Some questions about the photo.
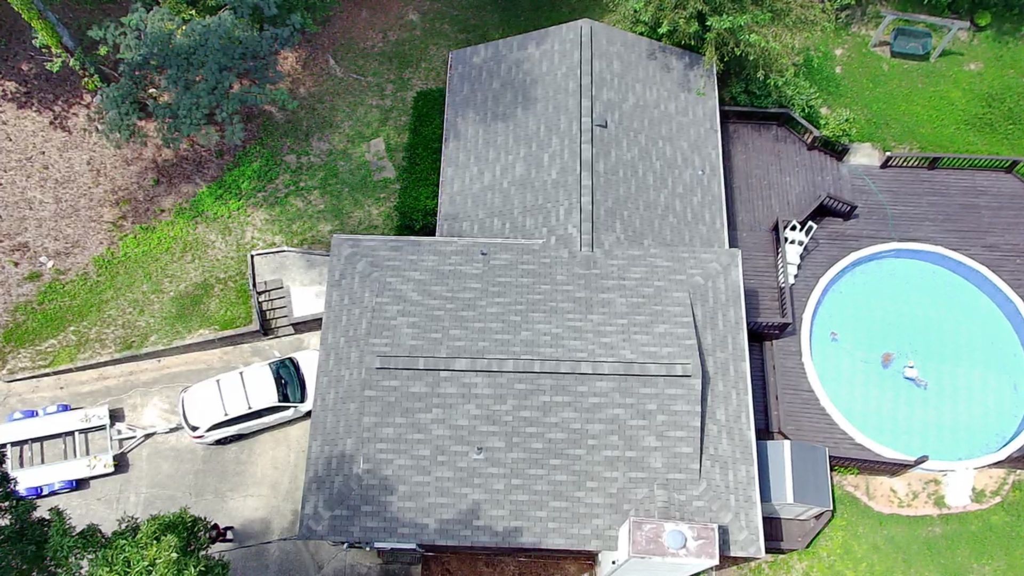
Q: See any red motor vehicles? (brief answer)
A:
No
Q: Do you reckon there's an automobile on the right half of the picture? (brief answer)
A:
No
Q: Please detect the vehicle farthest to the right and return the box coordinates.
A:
[177,342,319,443]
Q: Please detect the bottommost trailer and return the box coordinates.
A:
[0,405,178,500]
